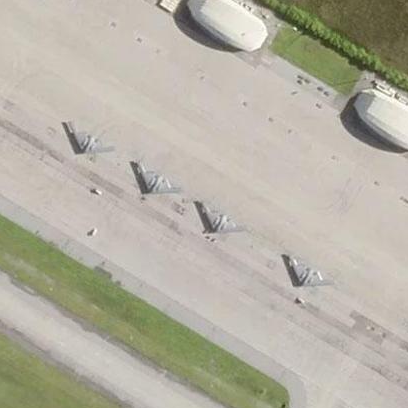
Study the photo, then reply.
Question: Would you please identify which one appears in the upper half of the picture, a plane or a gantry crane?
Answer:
plane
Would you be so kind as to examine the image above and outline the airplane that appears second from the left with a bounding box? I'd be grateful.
[134,165,182,194]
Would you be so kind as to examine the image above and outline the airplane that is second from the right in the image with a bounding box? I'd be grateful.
[197,204,245,233]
